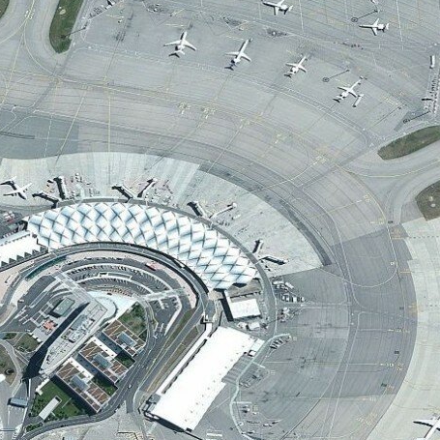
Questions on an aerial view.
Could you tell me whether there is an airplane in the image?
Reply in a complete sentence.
Yes, the image includes an airplane.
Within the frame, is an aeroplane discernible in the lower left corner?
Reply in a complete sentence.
No, no aeroplane can be made out in the lower left corner.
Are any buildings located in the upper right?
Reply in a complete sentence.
No, no building is visible in the upper right.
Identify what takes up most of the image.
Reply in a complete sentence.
The scene is dominated by paved ground.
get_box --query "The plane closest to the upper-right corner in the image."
[359,16,391,36]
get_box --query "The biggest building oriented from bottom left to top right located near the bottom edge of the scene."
[152,327,257,432]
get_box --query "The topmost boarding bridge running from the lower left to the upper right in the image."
[136,176,158,200]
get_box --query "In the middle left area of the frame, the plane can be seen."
[7,179,26,198]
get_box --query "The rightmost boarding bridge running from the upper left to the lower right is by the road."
[188,198,206,219]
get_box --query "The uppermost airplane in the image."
[262,0,296,16]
